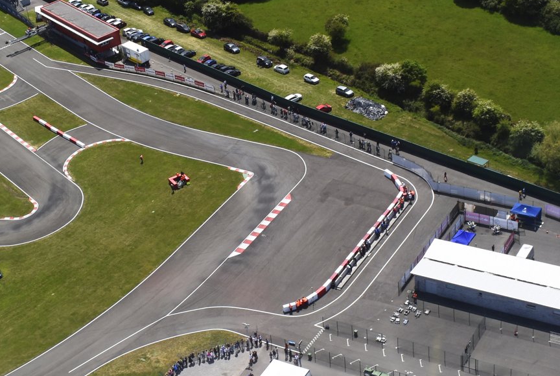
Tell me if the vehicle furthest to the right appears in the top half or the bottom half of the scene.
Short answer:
bottom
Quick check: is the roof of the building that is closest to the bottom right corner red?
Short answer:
No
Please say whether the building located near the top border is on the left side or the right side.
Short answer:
left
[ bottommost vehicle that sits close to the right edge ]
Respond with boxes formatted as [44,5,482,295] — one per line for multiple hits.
[513,235,538,260]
